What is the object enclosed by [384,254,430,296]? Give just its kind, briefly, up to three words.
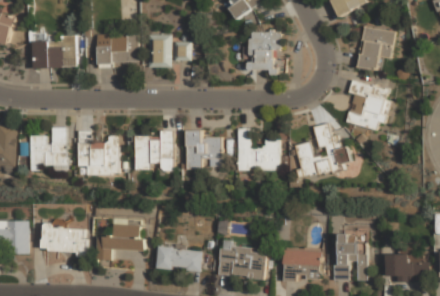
house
